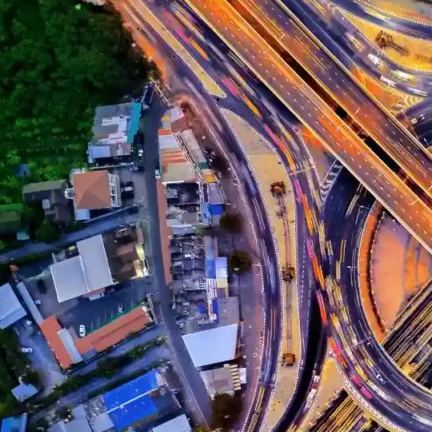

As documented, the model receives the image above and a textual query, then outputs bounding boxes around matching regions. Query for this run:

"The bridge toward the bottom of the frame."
[329,336,432,432]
